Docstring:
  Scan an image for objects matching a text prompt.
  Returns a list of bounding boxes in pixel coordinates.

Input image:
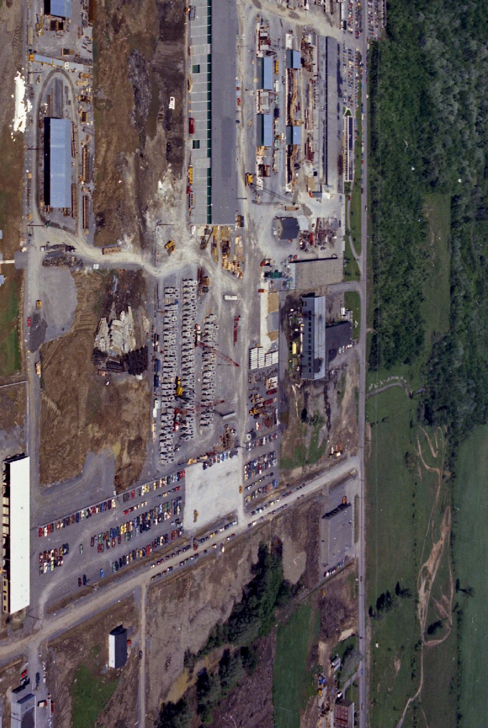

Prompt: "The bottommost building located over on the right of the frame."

[338,699,355,728]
